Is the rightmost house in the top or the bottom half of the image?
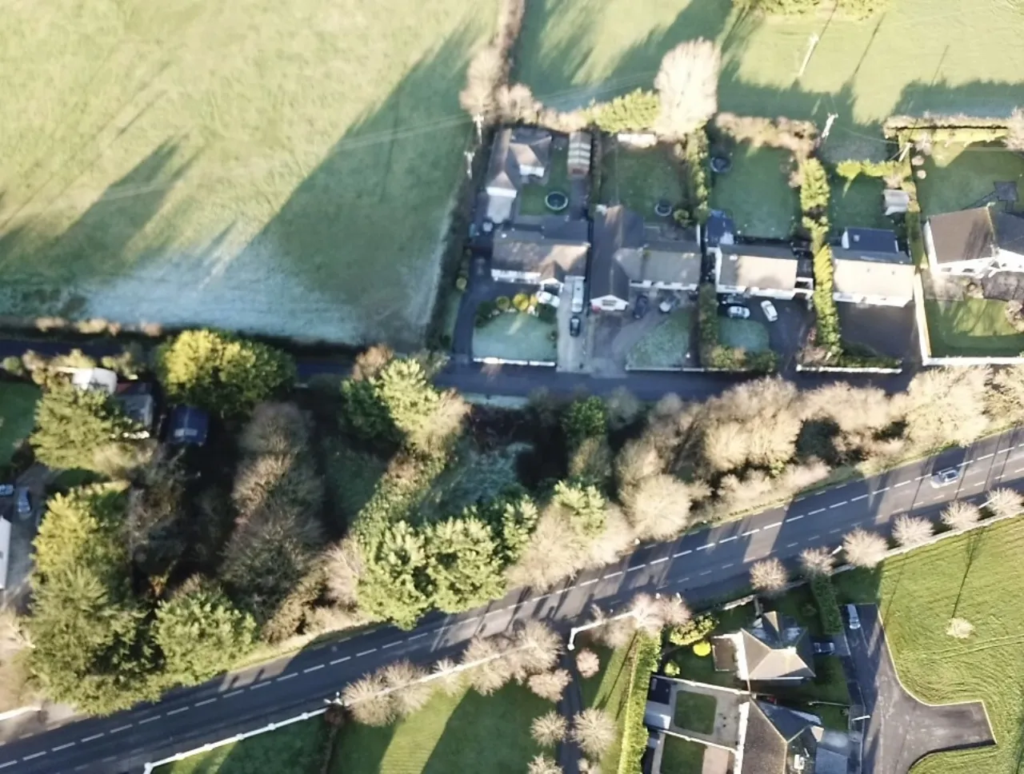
top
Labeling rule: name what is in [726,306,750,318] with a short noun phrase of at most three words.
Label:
vehicle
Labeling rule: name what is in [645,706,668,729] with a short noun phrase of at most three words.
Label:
shed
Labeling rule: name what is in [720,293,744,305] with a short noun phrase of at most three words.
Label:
vehicle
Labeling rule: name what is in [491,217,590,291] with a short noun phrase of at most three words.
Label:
house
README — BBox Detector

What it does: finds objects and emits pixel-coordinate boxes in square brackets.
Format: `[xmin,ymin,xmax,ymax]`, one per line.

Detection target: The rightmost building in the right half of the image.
[901,200,1024,283]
